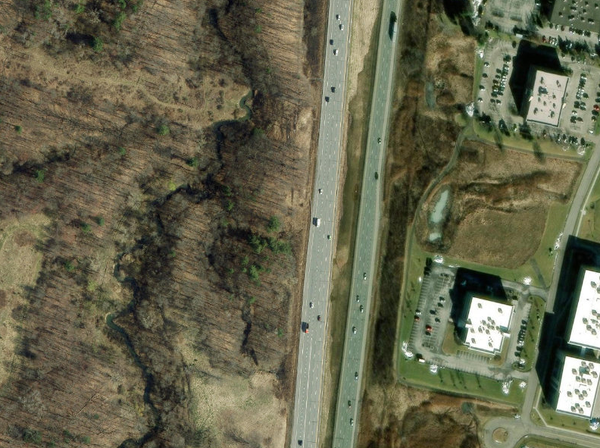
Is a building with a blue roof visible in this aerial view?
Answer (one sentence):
No, the frame has no building with a blue roof in it.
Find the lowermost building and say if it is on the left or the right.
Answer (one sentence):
It is on the right.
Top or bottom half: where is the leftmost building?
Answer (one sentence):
You can find the leftmost building in the bottom half.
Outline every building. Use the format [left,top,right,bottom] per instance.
[459,293,514,354]
[521,66,569,128]
[546,0,600,33]
[562,264,600,350]
[549,351,600,420]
